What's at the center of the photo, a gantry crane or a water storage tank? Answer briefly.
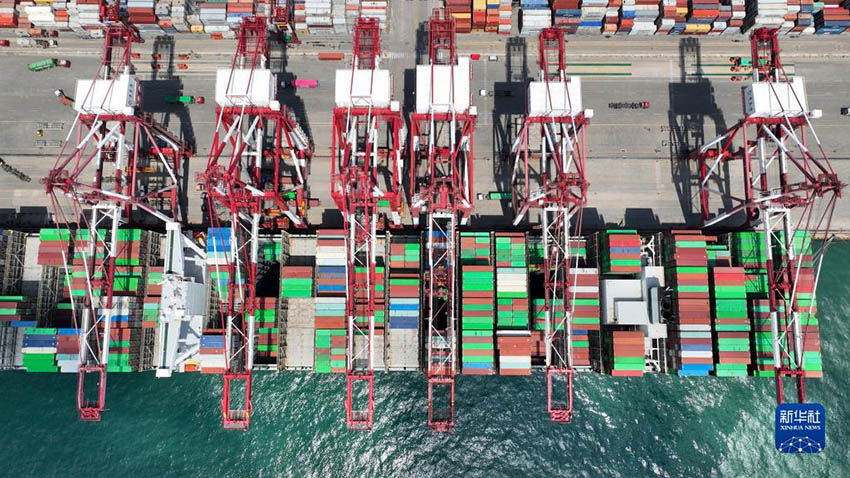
gantry crane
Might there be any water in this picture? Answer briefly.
Yes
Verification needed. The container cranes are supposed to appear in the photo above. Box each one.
[272,0,305,39]
[41,20,203,418]
[330,14,408,429]
[196,16,312,428]
[406,7,487,430]
[675,25,846,422]
[496,25,599,421]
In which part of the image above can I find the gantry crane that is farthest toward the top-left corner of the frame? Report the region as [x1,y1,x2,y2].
[97,0,126,29]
